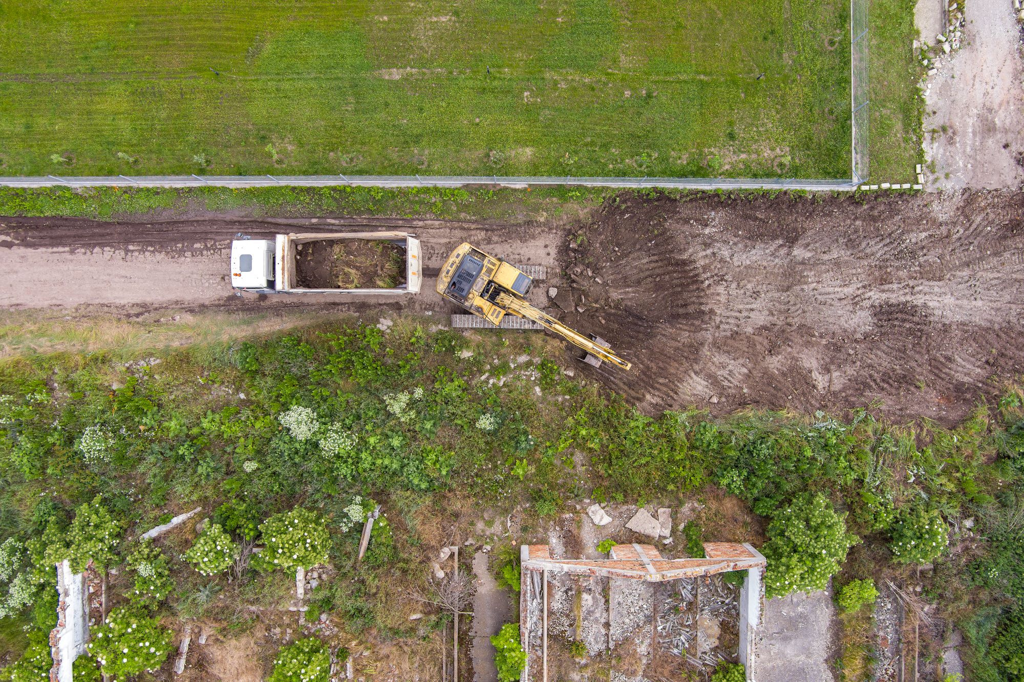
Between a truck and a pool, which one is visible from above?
truck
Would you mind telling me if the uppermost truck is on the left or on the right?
left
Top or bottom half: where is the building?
bottom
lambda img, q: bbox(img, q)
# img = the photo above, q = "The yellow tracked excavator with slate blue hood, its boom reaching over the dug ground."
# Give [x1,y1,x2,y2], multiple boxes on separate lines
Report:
[436,243,633,370]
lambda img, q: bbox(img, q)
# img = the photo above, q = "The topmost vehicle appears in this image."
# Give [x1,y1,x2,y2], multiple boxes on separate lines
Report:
[231,229,423,299]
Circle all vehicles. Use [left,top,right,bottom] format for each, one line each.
[231,229,423,299]
[436,243,633,370]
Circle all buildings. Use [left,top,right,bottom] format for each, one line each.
[520,543,768,682]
